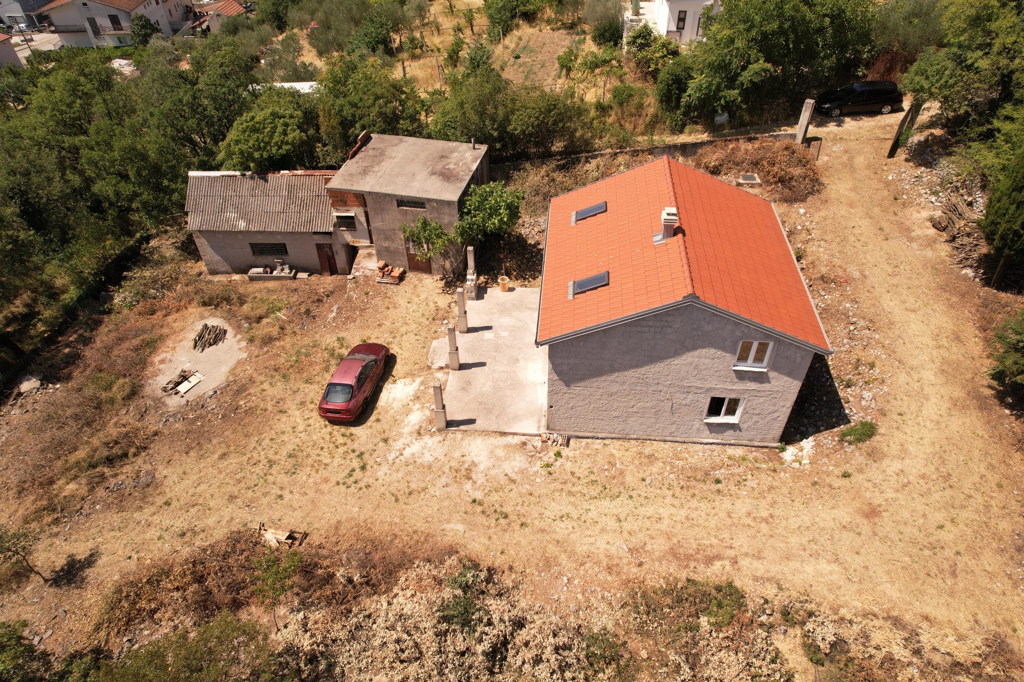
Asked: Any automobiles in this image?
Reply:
Yes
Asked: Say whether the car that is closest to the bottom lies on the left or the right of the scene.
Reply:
left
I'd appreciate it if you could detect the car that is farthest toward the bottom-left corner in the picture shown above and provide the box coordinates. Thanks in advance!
[318,341,391,424]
